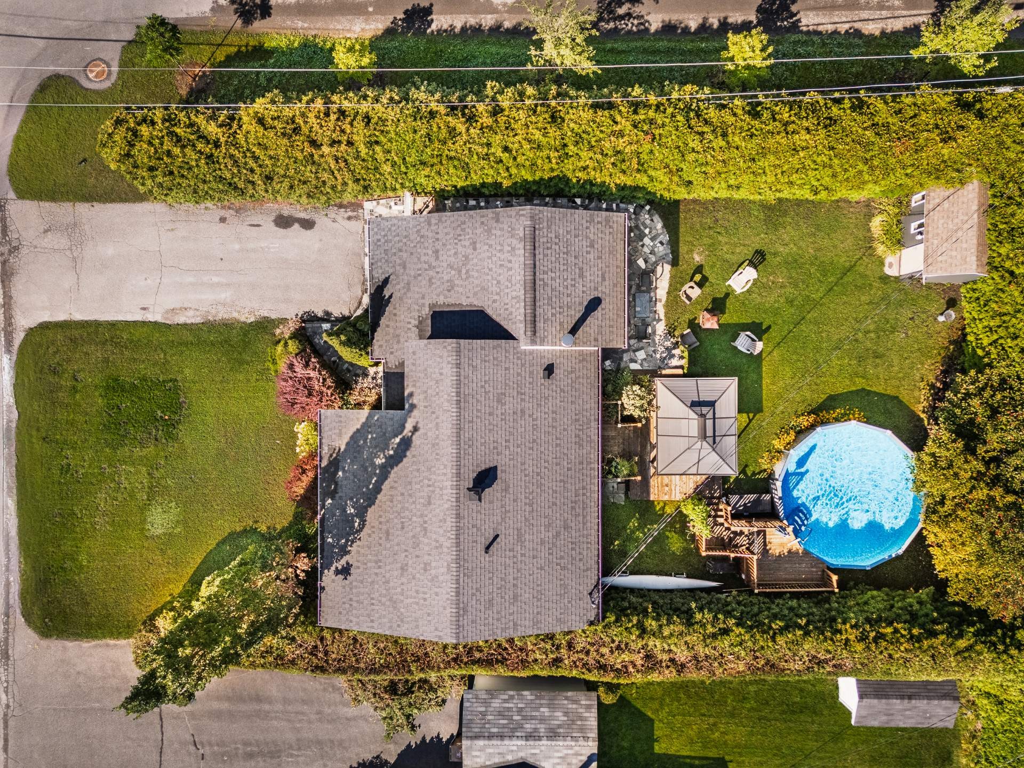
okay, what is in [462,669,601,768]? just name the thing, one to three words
house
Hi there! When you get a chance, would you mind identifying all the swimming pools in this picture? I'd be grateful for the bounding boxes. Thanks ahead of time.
[766,420,925,568]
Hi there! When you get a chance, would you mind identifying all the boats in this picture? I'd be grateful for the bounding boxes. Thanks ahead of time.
[605,573,723,590]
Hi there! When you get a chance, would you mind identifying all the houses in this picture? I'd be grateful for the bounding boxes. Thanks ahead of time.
[314,206,631,644]
[462,669,601,768]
